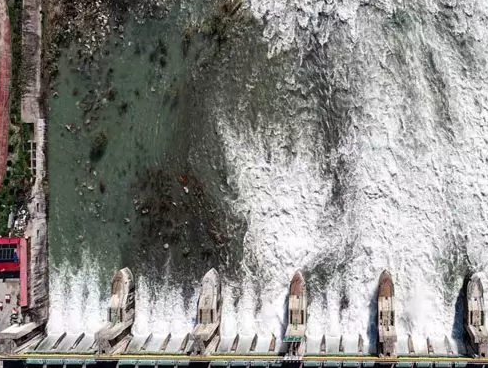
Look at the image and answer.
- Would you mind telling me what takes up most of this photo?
water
